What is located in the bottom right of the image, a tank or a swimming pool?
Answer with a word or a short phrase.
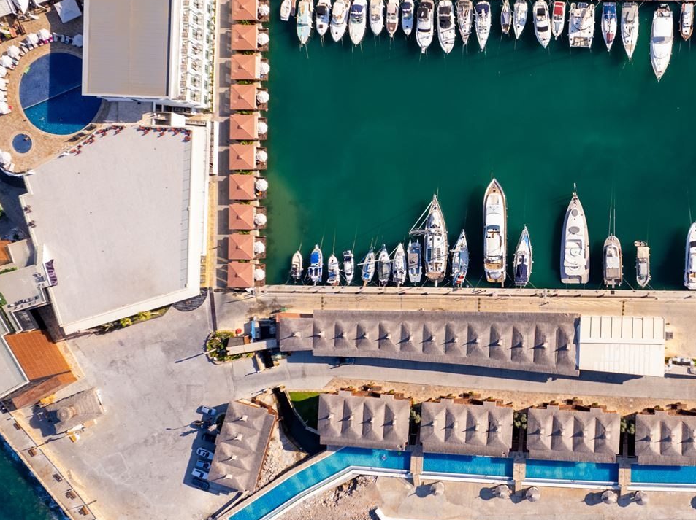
swimming pool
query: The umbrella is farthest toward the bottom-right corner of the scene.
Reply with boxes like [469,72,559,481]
[634,489,649,504]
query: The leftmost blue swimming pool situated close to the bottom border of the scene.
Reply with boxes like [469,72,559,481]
[226,445,412,520]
